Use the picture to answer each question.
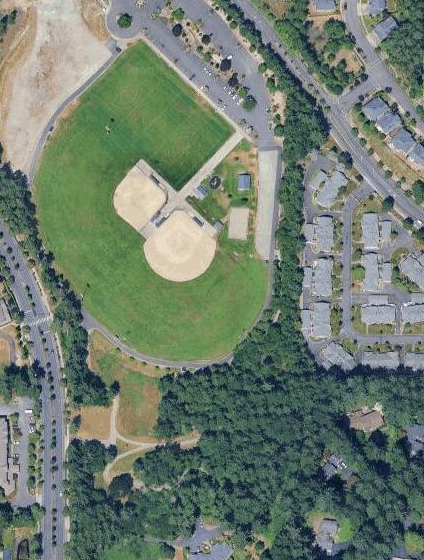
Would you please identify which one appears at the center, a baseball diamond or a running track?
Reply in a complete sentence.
It is a baseball diamond that can be seen at the center.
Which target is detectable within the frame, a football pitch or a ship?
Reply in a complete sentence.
There is a football pitch in the scene.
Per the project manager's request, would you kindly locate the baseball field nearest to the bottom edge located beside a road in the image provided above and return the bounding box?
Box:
[71,211,270,363]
